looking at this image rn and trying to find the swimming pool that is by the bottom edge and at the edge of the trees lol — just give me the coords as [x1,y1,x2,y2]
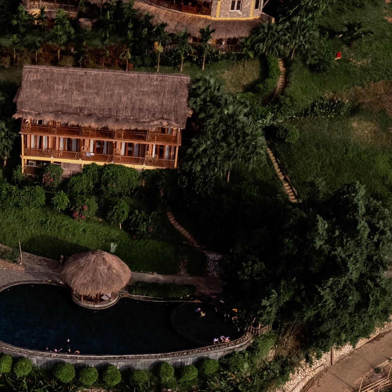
[0,281,258,380]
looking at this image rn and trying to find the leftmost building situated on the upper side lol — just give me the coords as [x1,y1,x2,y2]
[7,62,195,183]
